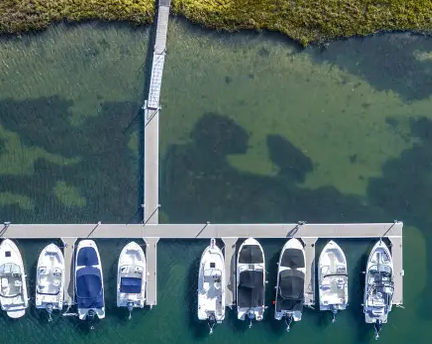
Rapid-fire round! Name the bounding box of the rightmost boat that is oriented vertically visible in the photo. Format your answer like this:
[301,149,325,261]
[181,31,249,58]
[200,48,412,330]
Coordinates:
[358,236,392,334]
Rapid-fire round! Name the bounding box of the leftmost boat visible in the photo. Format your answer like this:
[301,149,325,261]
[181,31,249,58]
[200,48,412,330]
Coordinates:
[0,239,32,318]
